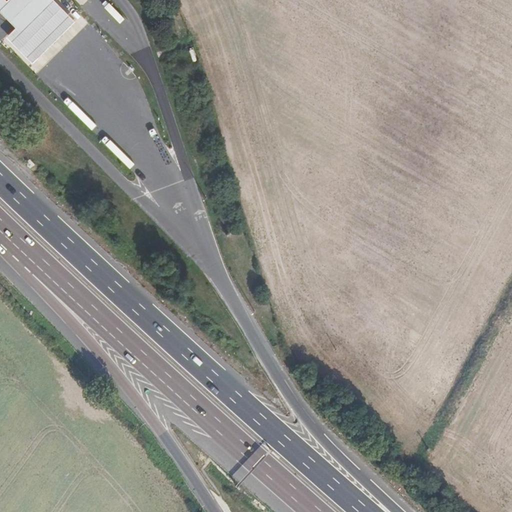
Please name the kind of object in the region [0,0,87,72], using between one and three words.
building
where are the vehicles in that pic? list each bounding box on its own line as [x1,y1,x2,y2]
[60,0,70,8]
[3,228,13,238]
[101,134,134,168]
[125,352,136,364]
[24,236,36,246]
[63,96,96,130]
[135,169,146,180]
[153,322,164,332]
[243,442,254,452]
[0,245,6,254]
[150,129,170,164]
[190,353,204,366]
[69,9,82,20]
[196,406,207,416]
[189,48,198,63]
[6,185,17,196]
[100,0,124,24]
[208,384,219,394]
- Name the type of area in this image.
farmland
